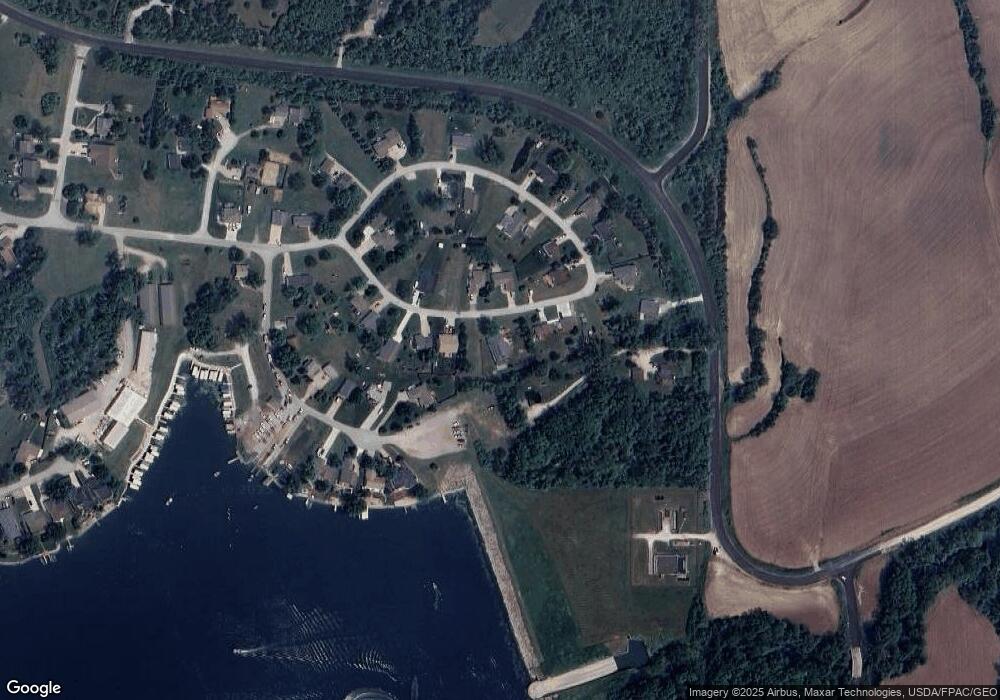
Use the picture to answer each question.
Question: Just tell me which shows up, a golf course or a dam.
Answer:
dam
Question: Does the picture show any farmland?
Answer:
Yes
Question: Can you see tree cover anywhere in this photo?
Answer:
Yes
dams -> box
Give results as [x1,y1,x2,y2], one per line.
[469,469,562,677]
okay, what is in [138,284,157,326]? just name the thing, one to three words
building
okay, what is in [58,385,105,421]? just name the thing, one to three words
building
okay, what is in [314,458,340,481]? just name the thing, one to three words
house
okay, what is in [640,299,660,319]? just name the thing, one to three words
house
